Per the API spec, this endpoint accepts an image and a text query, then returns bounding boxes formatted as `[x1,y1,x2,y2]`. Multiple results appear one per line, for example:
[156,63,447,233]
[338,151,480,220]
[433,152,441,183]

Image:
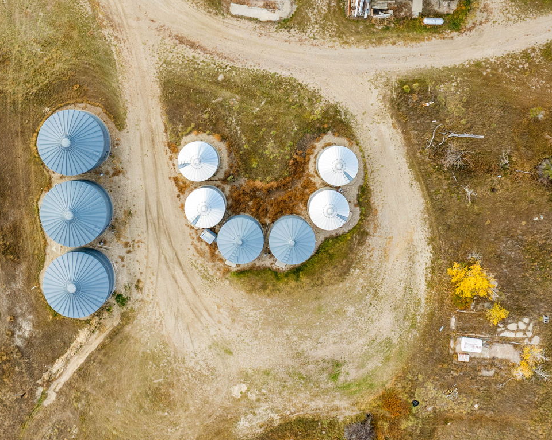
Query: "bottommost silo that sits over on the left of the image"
[41,242,118,319]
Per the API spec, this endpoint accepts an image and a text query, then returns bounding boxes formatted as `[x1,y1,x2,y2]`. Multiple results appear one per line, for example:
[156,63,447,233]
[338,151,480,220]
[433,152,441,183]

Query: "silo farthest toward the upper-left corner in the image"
[37,106,114,177]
